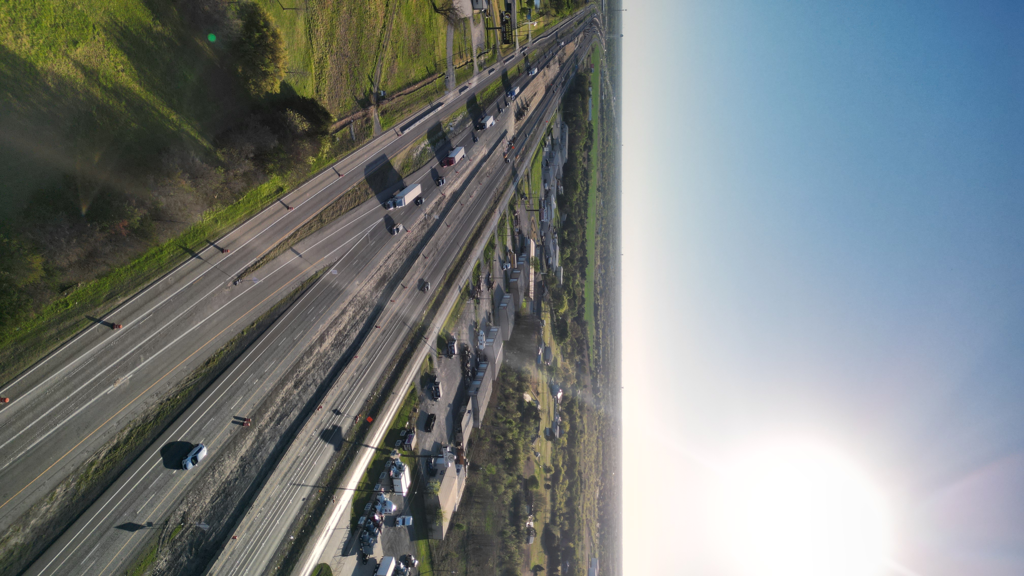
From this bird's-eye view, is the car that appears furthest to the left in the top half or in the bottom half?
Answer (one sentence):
The car that appears furthest to the left is in the bottom half of the image.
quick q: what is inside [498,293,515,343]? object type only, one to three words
shed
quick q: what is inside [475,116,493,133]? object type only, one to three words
vehicle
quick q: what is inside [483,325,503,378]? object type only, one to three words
shed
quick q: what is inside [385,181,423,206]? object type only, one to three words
truck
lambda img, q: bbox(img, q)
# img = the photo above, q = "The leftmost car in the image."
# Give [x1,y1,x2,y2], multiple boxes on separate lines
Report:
[180,441,208,472]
